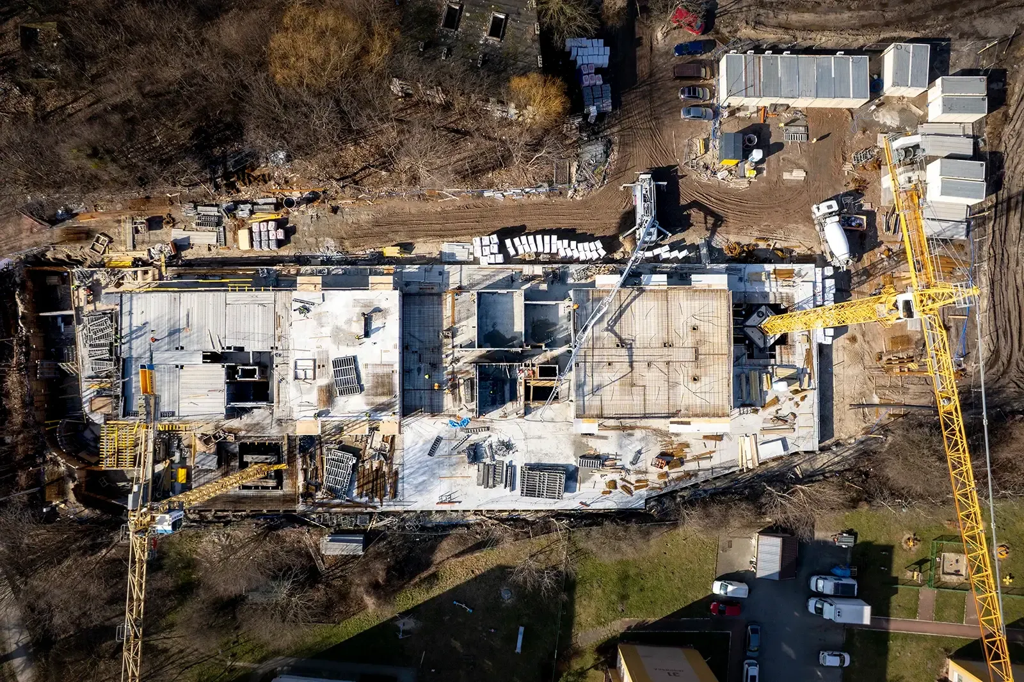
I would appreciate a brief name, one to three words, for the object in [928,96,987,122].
building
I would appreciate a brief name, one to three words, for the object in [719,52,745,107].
building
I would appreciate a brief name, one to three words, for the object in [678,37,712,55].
car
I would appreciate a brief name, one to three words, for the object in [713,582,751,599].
vehicle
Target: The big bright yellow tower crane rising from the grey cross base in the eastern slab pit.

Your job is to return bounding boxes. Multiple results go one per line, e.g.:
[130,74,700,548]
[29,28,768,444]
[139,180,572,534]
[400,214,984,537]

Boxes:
[733,139,1016,682]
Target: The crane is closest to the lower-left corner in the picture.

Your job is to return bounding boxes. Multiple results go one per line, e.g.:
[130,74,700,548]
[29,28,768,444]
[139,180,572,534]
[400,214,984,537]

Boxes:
[97,372,283,682]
